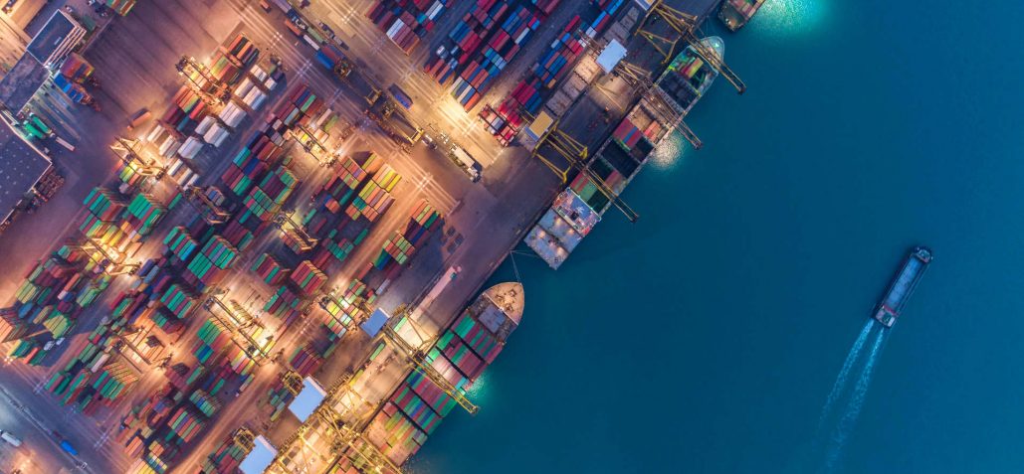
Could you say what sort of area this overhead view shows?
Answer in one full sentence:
This image shows a port.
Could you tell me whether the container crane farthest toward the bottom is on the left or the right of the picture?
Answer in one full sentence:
It is on the left.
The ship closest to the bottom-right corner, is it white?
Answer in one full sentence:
No, the ship closest to the bottom-right corner is blue.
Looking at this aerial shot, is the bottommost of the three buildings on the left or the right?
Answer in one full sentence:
It is on the left.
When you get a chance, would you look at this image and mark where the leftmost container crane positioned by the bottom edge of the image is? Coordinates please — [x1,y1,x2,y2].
[227,423,339,474]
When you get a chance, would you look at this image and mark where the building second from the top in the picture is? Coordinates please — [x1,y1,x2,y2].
[0,50,55,117]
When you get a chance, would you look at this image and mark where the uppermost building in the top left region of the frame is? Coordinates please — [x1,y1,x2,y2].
[24,7,92,72]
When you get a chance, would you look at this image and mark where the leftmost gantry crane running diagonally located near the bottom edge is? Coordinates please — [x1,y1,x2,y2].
[277,363,404,474]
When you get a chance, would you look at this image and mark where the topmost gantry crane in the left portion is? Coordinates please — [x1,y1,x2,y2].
[174,62,233,113]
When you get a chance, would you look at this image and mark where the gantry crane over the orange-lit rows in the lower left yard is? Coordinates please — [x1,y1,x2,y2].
[113,332,165,373]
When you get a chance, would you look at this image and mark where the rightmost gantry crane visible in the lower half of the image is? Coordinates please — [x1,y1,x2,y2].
[354,297,482,417]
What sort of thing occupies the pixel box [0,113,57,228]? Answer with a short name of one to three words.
building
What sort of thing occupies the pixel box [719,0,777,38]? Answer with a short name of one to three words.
ship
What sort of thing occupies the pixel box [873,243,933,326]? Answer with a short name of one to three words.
ship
